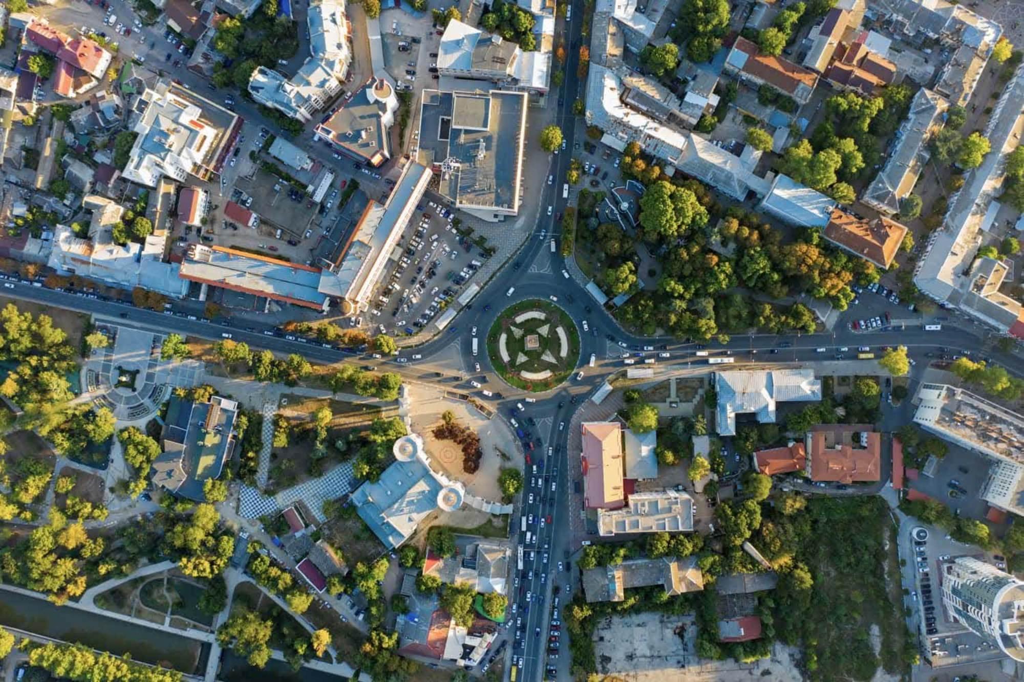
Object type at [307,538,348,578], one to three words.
barn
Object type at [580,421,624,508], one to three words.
building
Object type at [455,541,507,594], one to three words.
house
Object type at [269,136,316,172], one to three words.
shed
